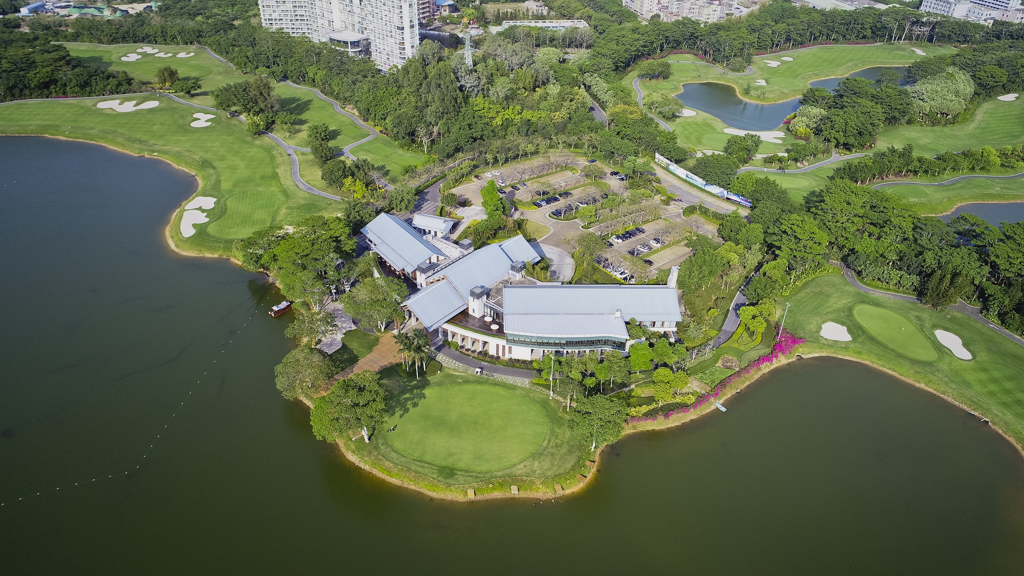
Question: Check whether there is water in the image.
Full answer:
Yes, the picture does contain water.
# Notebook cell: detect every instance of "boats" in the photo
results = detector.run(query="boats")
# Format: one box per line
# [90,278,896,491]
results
[715,401,726,412]
[268,301,292,317]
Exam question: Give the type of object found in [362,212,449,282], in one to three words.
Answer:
building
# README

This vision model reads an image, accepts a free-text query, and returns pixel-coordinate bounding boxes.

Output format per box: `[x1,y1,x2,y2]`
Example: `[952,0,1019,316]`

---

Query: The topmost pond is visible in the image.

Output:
[673,66,918,131]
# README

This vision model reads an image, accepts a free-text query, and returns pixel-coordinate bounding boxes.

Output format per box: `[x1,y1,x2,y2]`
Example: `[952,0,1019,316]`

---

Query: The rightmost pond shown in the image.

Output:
[926,201,1024,252]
